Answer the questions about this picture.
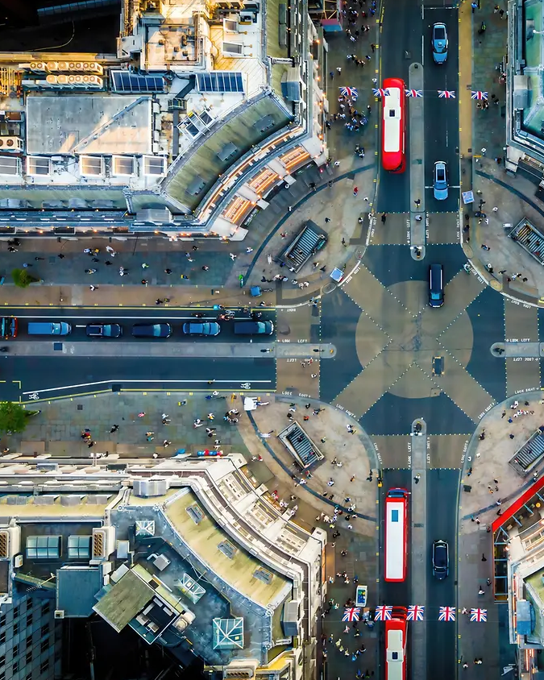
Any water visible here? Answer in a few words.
No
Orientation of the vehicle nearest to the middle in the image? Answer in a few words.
from side to side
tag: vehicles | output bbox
[134,320,174,340]
[430,26,447,64]
[233,317,275,337]
[27,319,72,338]
[379,78,405,174]
[426,265,445,306]
[382,490,408,581]
[0,314,22,340]
[182,319,222,338]
[382,608,408,680]
[85,322,125,340]
[431,163,450,202]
